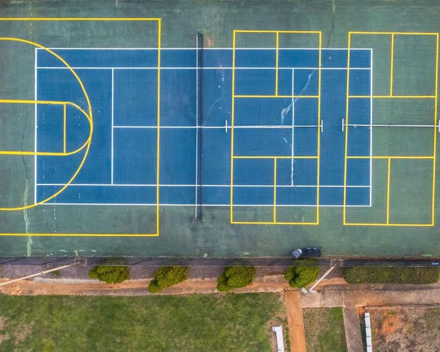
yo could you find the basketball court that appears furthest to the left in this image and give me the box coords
[0,18,160,237]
